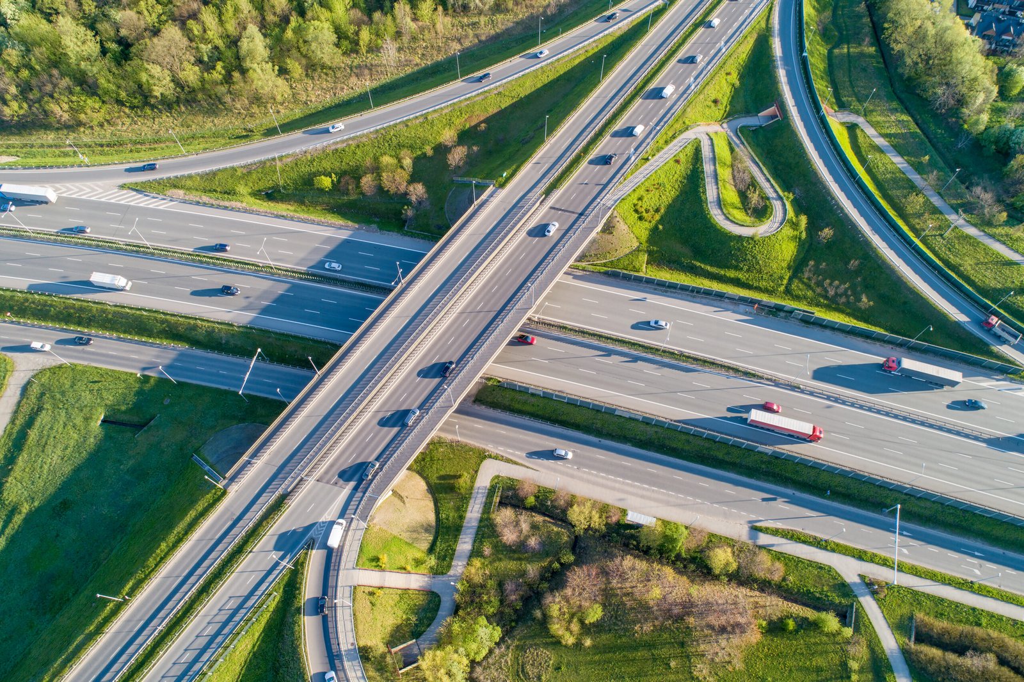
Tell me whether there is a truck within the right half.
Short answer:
Yes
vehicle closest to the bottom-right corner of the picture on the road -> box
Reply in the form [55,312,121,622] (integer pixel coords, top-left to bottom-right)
[965,399,985,411]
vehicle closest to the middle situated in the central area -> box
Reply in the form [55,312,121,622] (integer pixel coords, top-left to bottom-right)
[518,334,538,346]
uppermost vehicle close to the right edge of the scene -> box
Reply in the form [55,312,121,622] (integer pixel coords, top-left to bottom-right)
[988,315,1024,348]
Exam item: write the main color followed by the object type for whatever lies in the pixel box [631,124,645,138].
white car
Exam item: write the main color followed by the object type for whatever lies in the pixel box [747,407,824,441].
white truck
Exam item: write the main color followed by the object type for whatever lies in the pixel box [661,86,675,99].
white vehicle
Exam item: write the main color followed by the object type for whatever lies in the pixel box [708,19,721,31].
white vehicle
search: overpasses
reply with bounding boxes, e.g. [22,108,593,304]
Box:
[221,160,620,538]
